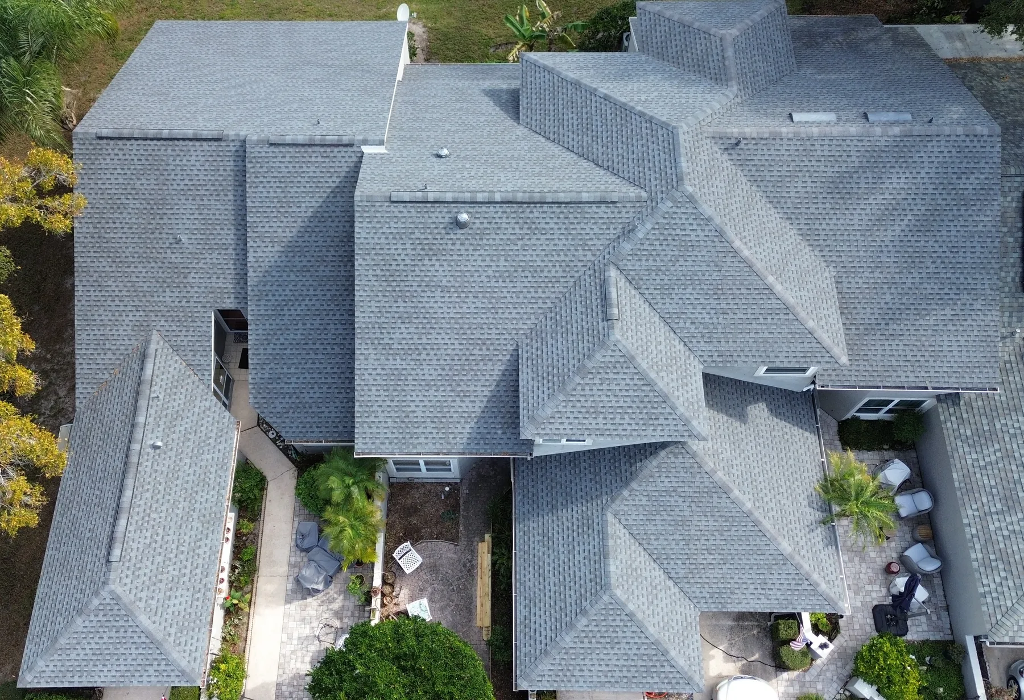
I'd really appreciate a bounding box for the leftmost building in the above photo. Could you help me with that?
[18,21,411,687]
